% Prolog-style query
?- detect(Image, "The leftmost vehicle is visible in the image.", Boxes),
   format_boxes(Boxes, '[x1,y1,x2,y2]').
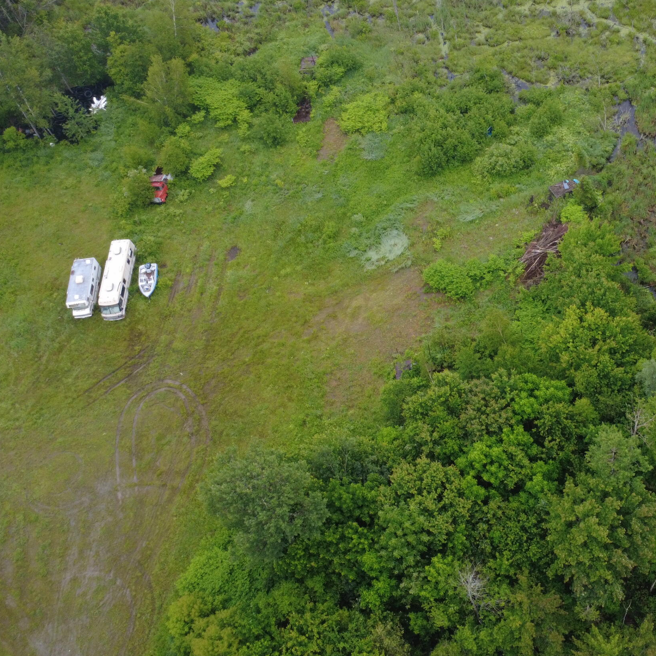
[68,258,103,324]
